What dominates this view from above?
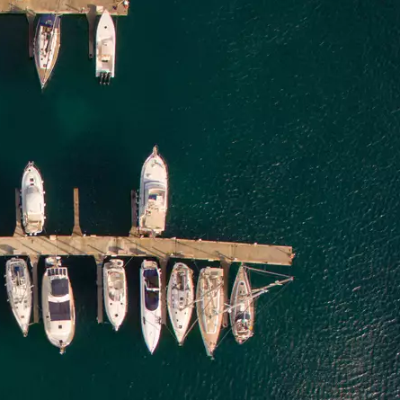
water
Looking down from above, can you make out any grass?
No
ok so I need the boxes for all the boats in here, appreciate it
[19,160,46,244]
[5,251,35,339]
[137,261,163,354]
[42,255,65,266]
[32,0,63,89]
[39,256,76,355]
[166,256,223,346]
[136,143,169,247]
[108,259,126,268]
[195,255,269,357]
[228,256,293,344]
[101,256,128,331]
[94,0,116,83]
